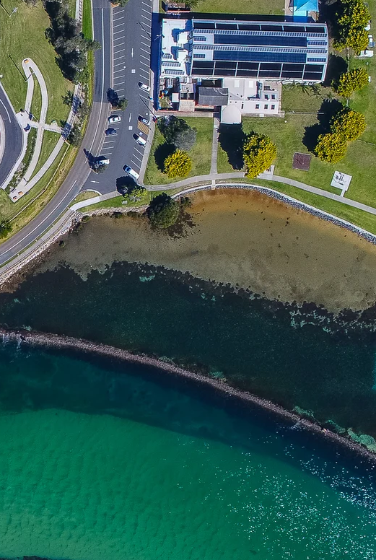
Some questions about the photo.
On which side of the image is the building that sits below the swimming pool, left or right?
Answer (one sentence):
It is on the right.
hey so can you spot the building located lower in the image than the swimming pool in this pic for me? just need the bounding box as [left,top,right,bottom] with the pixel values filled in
[190,18,329,87]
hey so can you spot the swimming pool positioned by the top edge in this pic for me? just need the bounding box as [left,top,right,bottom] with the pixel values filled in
[293,1,309,22]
